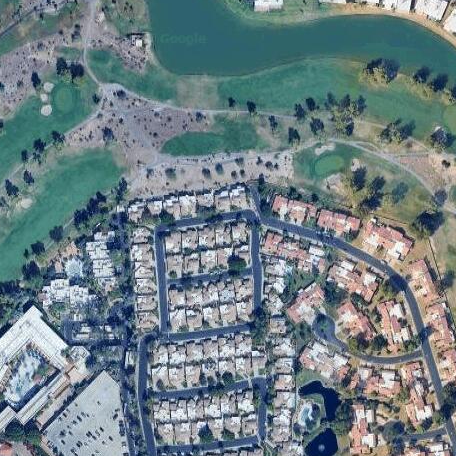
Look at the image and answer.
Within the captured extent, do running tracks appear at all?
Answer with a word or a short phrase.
No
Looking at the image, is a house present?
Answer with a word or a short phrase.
Yes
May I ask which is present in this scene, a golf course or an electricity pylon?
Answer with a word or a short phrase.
golf course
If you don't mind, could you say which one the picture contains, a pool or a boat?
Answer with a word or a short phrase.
pool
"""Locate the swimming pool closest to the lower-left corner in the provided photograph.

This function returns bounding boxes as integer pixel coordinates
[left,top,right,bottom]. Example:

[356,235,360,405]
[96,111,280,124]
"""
[11,367,29,398]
